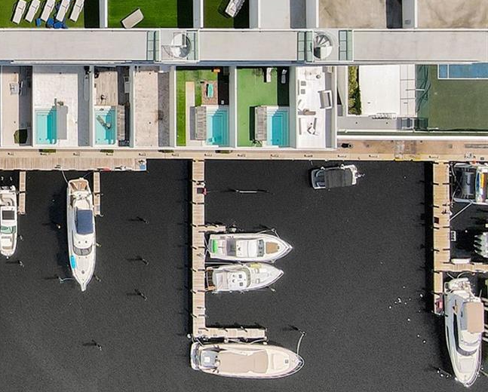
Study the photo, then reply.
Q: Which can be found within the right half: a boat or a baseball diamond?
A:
boat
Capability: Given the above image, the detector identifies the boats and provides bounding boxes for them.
[205,232,294,261]
[449,167,488,200]
[469,233,488,257]
[0,177,18,258]
[204,259,285,291]
[437,274,488,387]
[61,177,95,295]
[186,338,305,377]
[309,162,365,188]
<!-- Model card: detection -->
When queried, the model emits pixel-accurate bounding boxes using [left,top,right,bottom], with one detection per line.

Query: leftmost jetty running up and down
[15,172,29,215]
